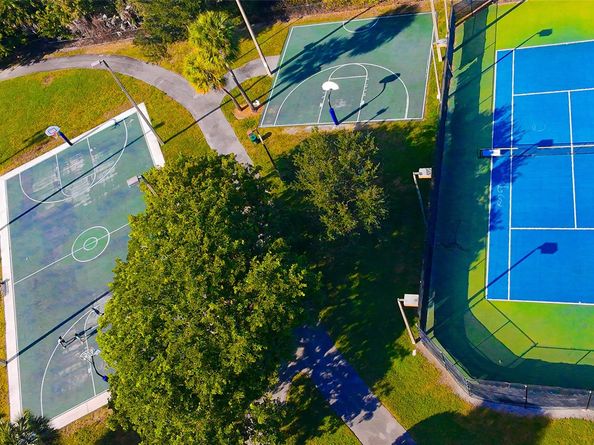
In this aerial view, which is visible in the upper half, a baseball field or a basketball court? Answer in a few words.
basketball court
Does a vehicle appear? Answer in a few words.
No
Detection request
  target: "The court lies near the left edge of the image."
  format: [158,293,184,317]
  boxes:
[0,103,207,445]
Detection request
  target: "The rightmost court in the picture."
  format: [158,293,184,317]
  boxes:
[421,0,594,421]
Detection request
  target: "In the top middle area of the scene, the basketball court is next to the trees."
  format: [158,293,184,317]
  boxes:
[261,9,432,127]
